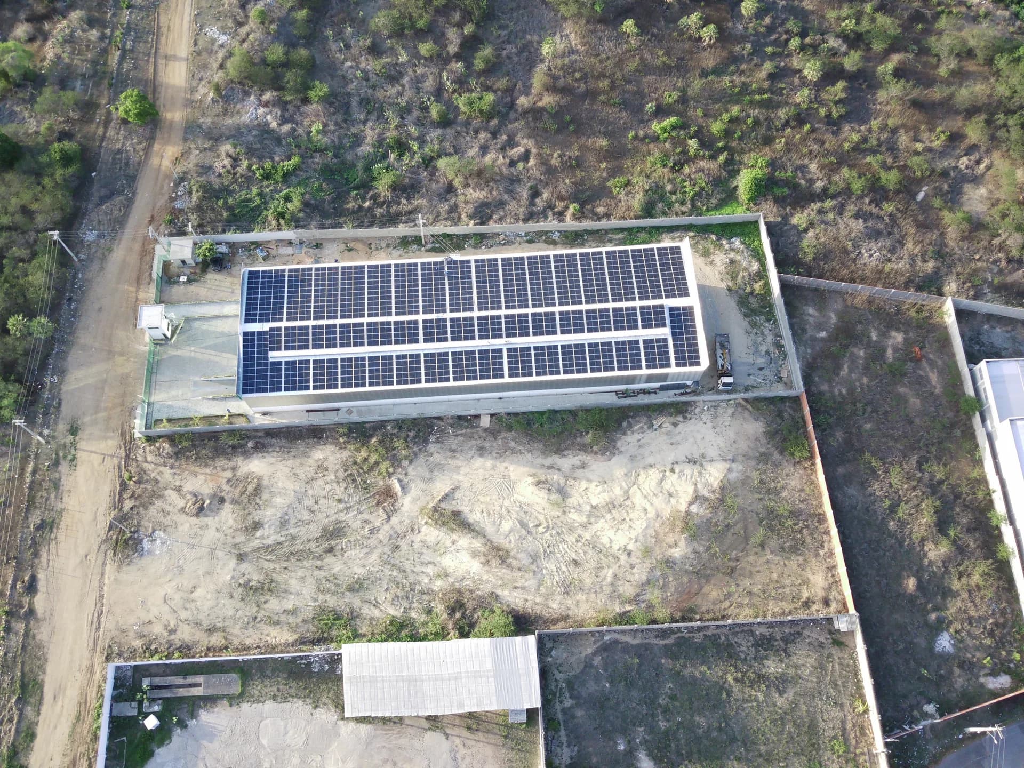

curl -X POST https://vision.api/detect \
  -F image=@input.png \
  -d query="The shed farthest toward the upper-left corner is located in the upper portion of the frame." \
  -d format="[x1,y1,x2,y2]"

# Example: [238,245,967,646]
[169,238,197,266]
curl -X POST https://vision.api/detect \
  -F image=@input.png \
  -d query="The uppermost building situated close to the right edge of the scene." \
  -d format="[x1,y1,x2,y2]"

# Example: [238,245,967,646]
[971,358,1024,444]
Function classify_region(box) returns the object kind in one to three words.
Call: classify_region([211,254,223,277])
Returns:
vehicle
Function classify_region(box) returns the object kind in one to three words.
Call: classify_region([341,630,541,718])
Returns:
shed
